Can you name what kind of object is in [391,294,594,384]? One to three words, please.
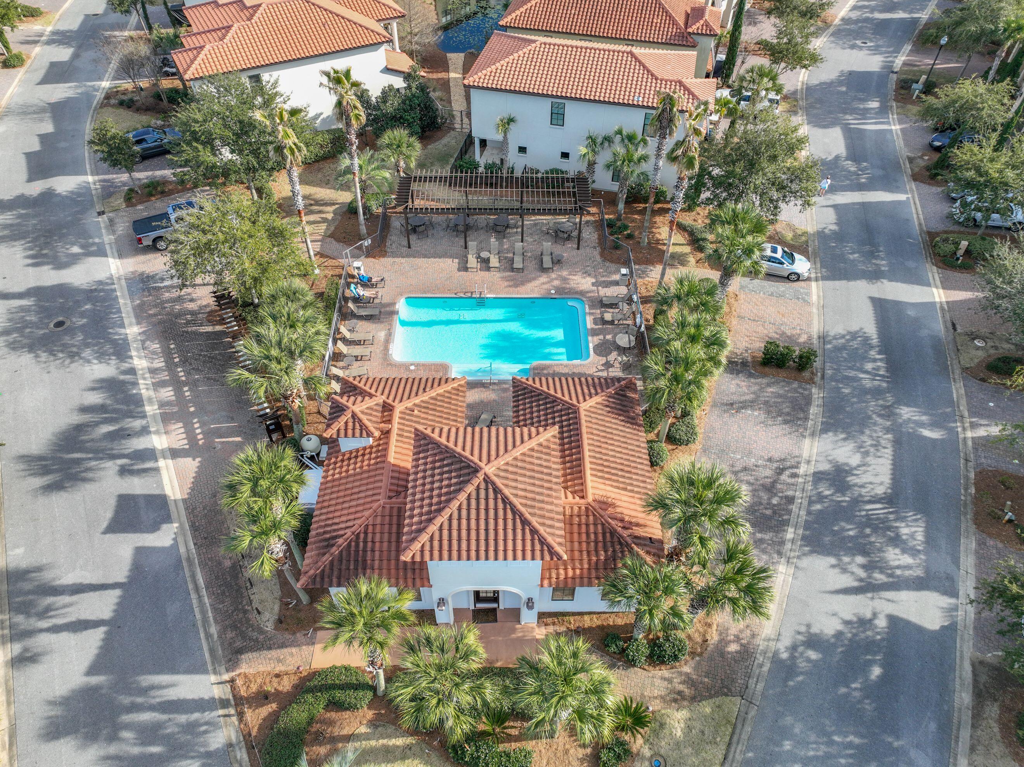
swimming pool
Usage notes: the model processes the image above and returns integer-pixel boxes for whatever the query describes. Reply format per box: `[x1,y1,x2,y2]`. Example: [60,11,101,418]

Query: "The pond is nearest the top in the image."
[435,0,519,56]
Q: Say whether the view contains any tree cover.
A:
Yes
